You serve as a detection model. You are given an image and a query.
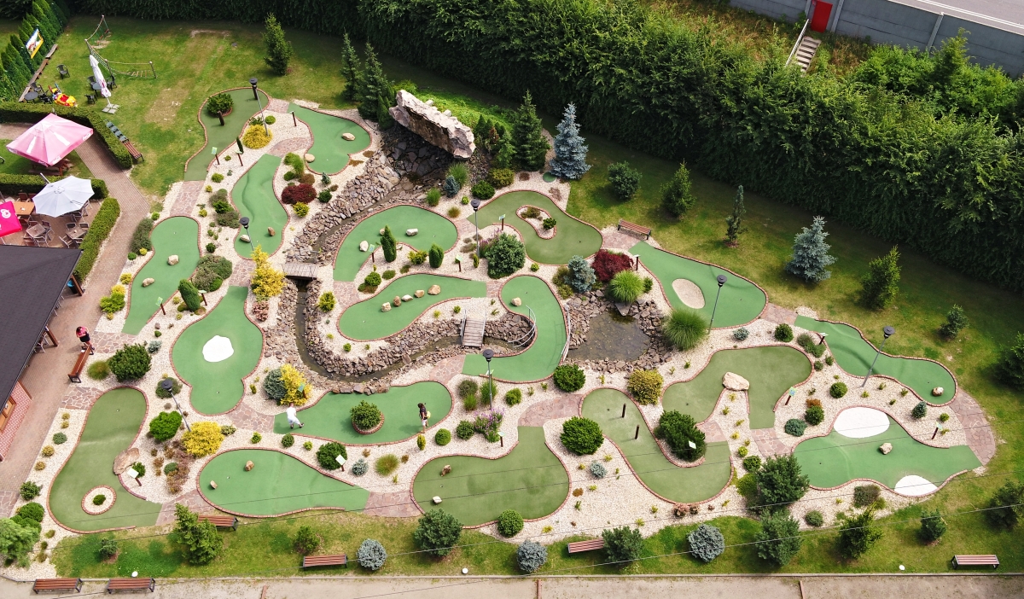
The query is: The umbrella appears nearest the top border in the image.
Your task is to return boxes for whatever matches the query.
[87,54,124,111]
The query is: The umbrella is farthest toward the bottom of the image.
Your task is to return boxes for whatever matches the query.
[0,202,23,245]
